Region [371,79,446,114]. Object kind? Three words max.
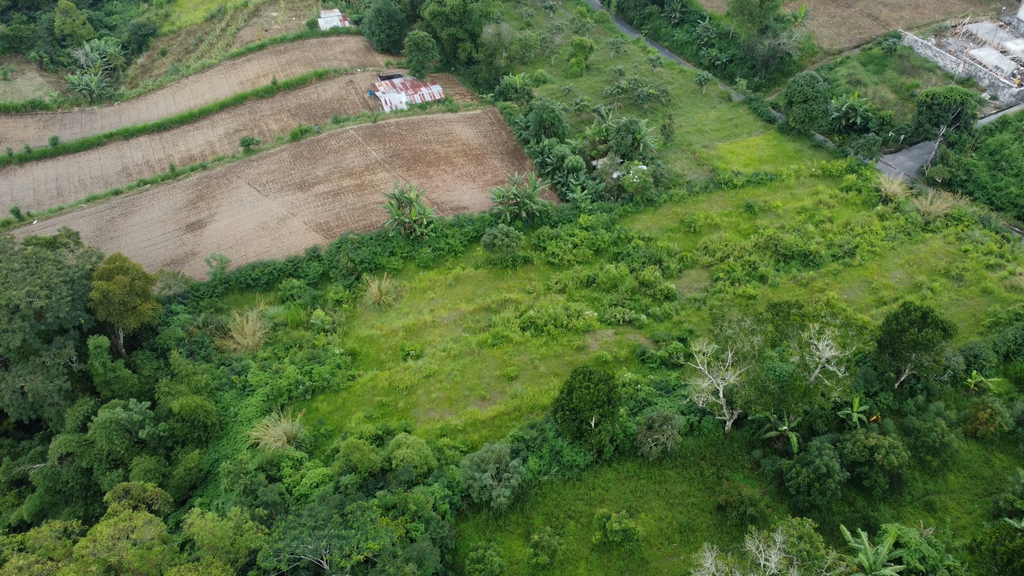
shed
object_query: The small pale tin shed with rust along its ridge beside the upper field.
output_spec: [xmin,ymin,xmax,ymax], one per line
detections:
[318,8,350,30]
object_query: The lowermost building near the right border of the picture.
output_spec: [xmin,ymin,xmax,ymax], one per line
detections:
[937,13,1024,85]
